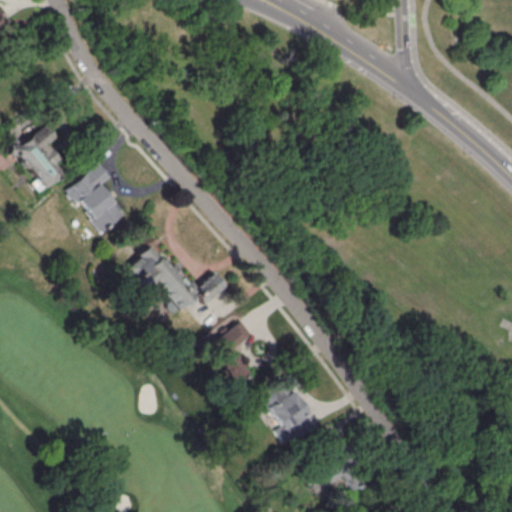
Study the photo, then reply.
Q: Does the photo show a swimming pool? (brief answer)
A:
No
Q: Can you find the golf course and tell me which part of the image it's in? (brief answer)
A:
bottom left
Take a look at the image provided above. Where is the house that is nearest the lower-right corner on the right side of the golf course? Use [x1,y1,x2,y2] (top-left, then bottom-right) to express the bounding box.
[330,470,366,494]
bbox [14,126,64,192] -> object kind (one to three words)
house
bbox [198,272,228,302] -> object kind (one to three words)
building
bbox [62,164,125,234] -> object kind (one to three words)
house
